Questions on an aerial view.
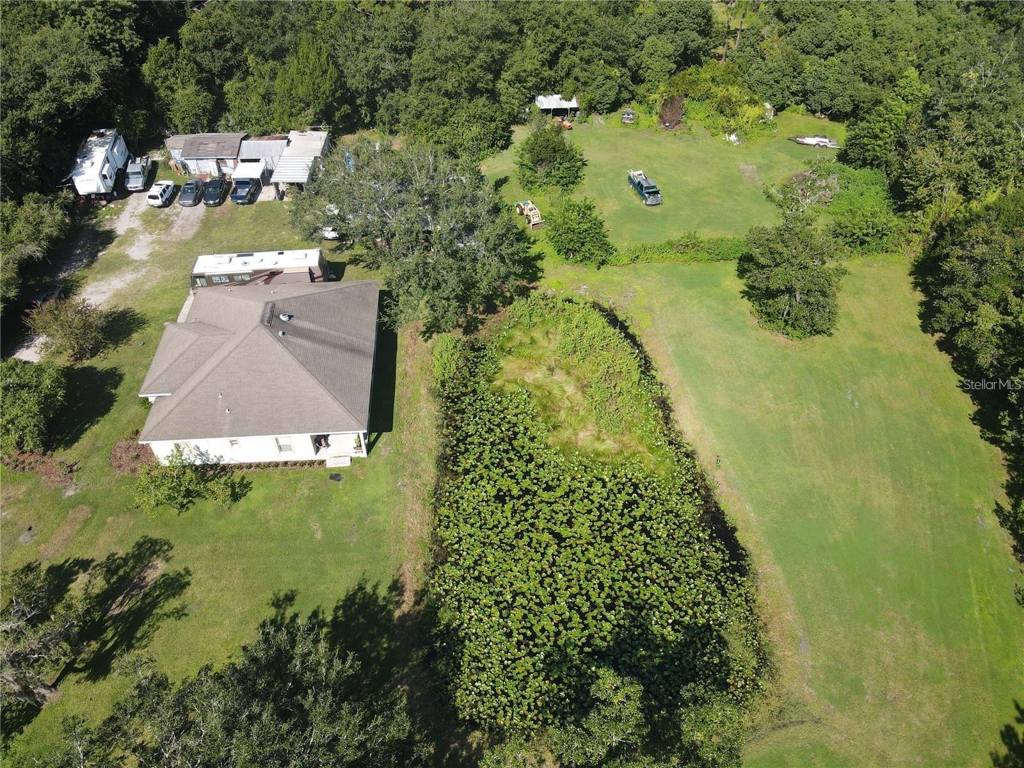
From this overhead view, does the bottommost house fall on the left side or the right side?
left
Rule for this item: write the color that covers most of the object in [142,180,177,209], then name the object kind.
white car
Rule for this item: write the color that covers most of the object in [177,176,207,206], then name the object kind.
gray car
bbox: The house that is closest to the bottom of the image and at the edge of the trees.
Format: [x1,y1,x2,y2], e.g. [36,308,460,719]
[138,278,383,467]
